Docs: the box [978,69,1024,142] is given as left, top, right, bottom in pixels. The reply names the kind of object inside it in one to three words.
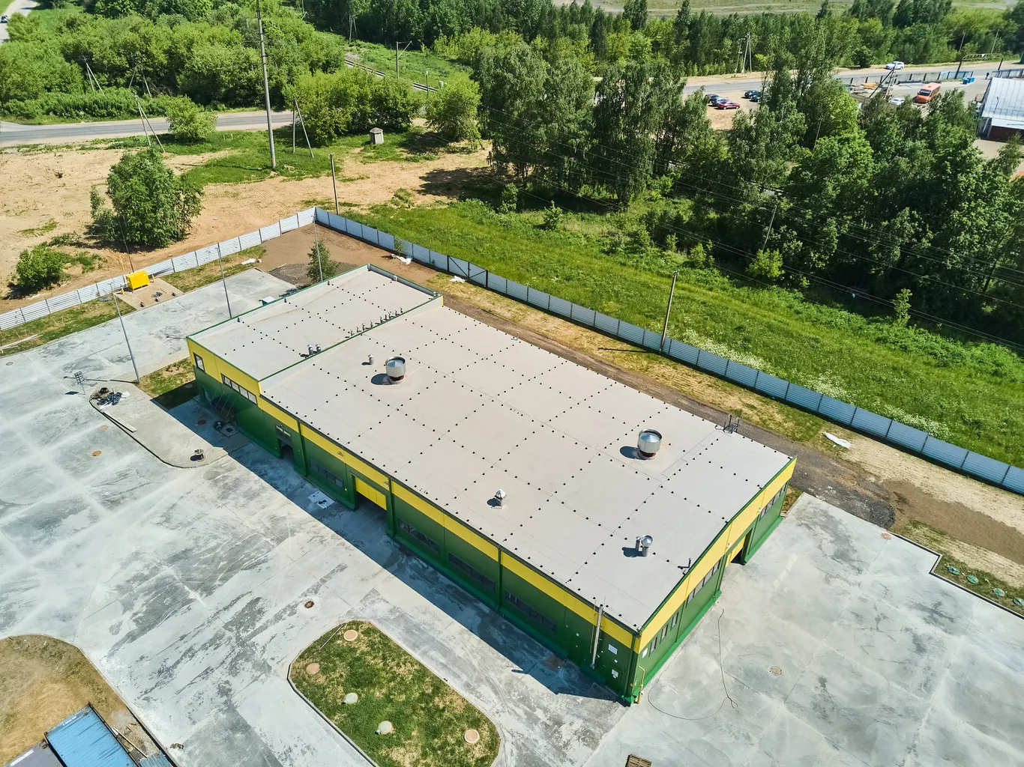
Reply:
building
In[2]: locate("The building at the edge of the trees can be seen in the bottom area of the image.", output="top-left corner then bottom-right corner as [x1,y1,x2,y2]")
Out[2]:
[183,265,800,708]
